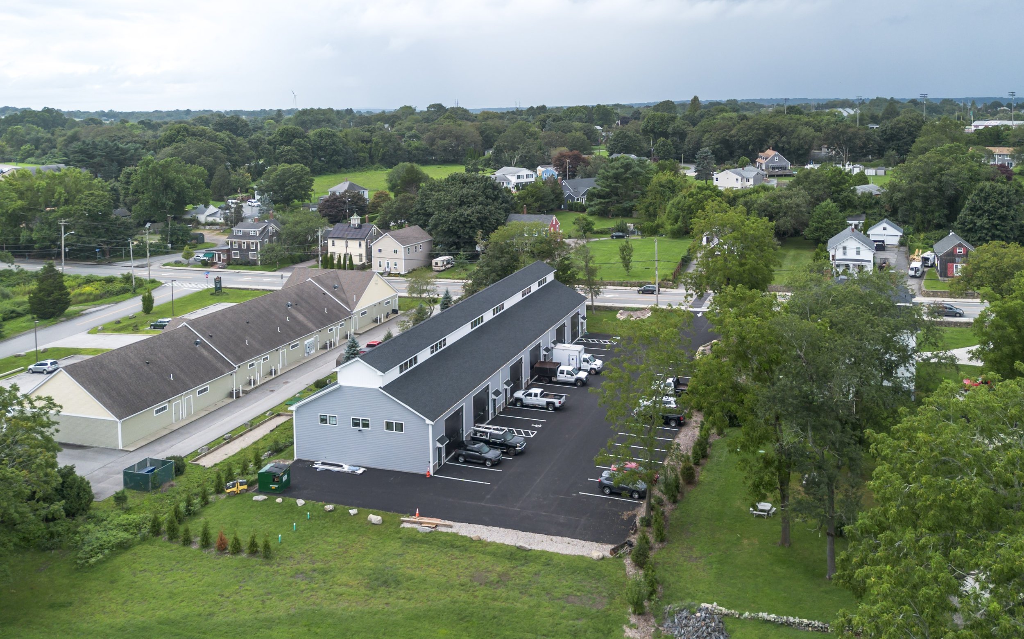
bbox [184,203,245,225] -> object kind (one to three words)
building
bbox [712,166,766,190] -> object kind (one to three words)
house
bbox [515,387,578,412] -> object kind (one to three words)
truck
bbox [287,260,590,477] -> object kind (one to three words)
building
